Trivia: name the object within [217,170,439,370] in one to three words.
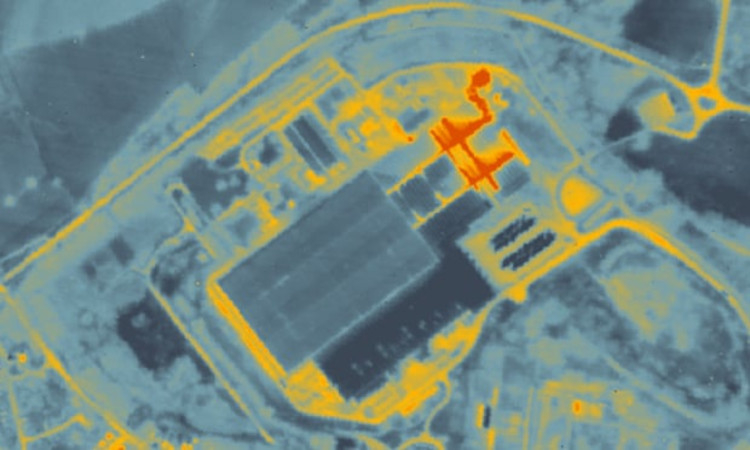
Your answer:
building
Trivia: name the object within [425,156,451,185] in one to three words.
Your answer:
building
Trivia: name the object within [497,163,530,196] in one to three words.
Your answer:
shed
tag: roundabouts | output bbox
[690,79,730,117]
